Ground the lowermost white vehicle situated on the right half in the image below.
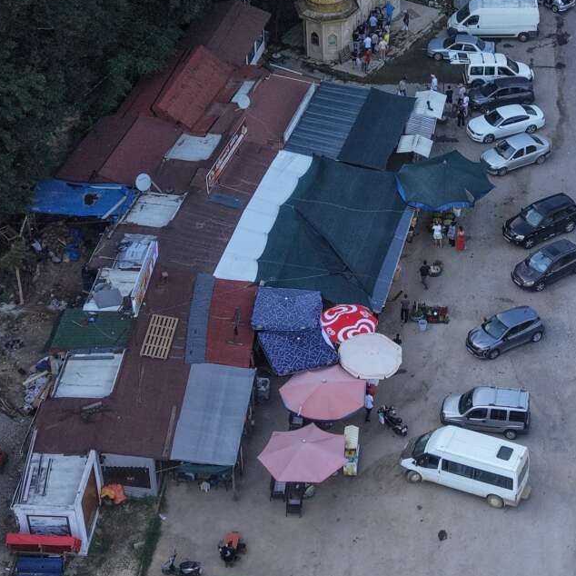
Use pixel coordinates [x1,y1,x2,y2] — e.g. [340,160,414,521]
[396,421,535,509]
